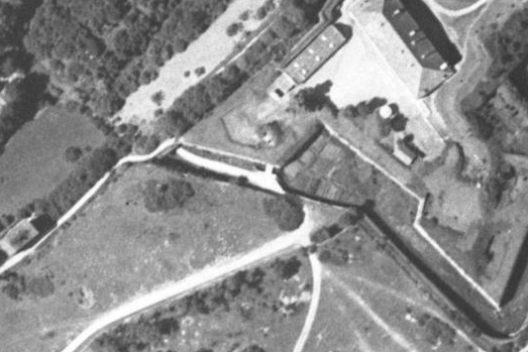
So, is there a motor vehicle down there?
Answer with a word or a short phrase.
No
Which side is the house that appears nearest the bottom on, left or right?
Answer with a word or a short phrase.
left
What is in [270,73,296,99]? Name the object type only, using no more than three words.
building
